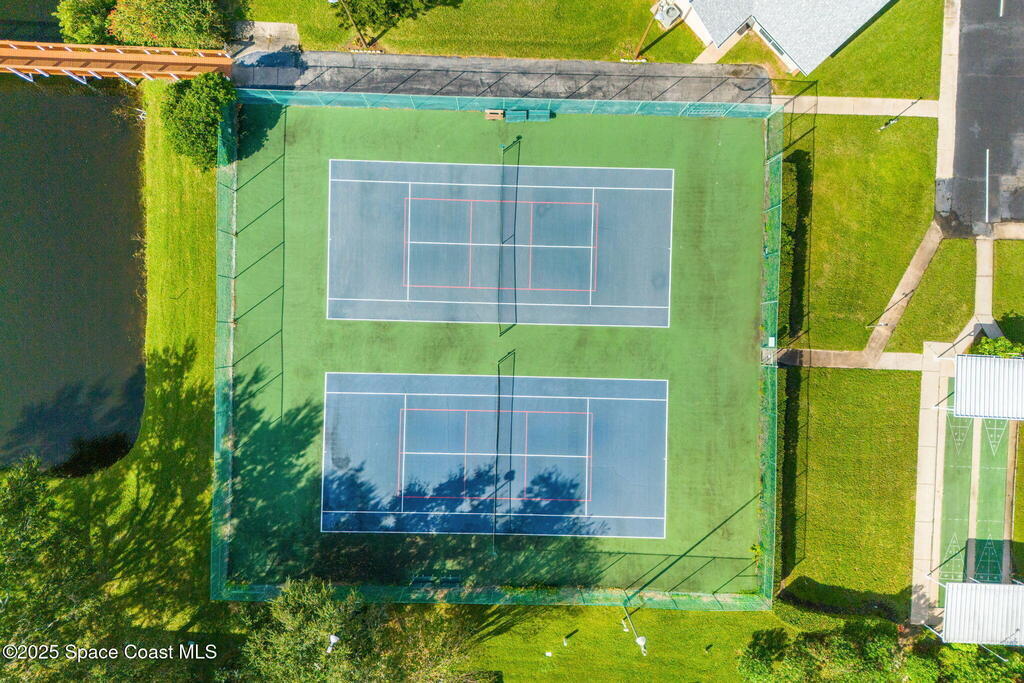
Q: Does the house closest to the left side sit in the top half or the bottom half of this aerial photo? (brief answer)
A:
top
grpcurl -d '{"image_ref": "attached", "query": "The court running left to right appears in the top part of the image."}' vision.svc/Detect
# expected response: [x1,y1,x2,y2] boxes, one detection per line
[327,160,673,327]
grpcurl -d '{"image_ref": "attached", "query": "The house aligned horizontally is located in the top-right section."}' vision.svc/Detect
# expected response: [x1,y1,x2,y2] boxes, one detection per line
[680,0,885,84]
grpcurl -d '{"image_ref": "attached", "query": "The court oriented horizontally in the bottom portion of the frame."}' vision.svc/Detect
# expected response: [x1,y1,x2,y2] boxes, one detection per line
[322,373,667,537]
